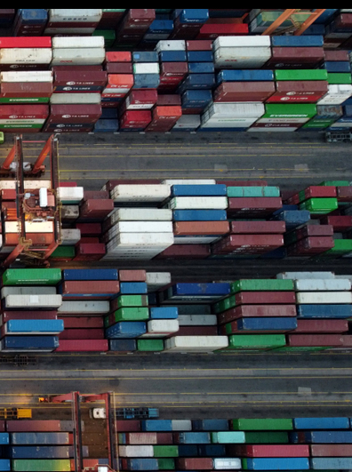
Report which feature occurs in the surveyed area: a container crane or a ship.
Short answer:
container crane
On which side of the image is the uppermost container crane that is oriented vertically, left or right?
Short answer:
left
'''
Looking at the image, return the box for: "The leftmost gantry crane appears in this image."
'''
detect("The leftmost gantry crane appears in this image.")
[0,133,64,270]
